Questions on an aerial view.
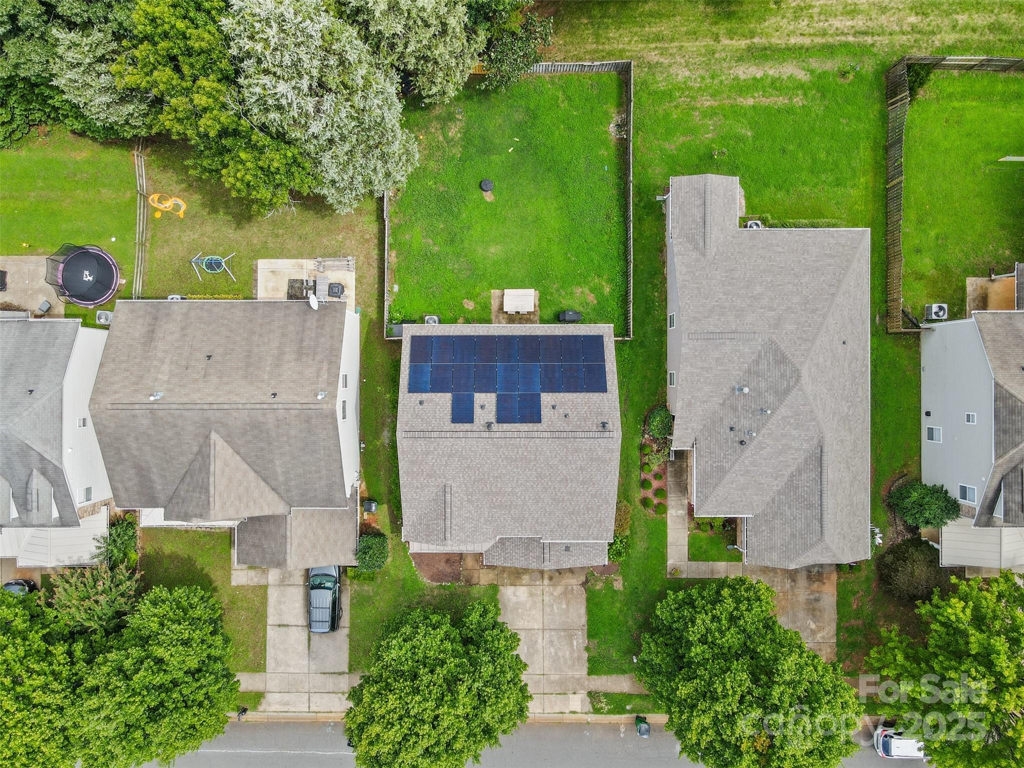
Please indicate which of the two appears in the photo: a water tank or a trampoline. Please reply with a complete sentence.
There is a trampoline in the scene.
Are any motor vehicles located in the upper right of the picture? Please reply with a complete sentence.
No, looking in the upper right of the picture, there is no motor vehicle.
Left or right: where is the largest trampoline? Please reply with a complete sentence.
The largest trampoline sits on the left side.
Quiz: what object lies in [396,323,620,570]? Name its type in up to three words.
house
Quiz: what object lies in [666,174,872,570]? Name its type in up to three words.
house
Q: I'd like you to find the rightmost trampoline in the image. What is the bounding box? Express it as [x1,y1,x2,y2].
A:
[204,257,225,274]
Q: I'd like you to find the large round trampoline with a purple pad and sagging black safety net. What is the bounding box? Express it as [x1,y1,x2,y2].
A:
[45,241,134,313]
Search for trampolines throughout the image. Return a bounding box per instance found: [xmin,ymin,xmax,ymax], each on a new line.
[204,257,225,274]
[45,241,134,313]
